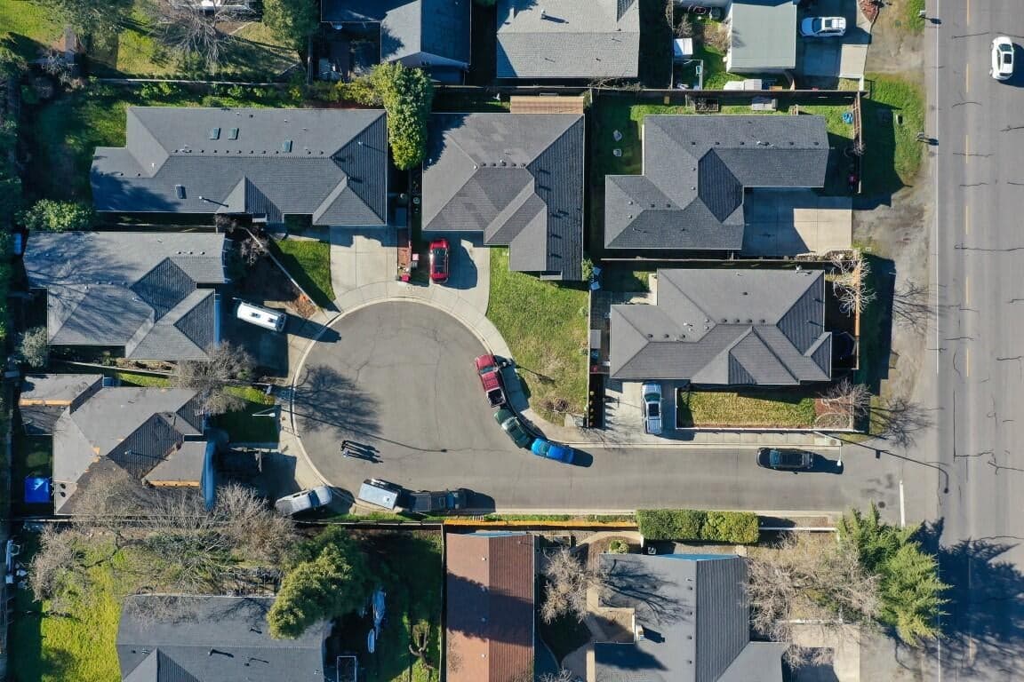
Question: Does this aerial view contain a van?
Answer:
Yes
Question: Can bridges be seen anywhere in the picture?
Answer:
No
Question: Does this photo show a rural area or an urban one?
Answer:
urban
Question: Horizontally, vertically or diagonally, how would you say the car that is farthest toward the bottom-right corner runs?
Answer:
horizontally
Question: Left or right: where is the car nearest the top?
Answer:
right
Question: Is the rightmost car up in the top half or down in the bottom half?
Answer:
top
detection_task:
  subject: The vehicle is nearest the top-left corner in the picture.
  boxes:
[233,301,291,335]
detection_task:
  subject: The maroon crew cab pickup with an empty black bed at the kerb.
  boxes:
[479,355,507,408]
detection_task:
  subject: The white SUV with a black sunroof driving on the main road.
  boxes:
[986,38,1013,82]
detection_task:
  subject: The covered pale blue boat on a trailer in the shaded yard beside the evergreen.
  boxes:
[368,583,387,629]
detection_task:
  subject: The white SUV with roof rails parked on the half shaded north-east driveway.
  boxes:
[798,15,845,39]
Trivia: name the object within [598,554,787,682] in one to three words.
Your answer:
house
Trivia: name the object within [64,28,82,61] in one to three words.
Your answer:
shed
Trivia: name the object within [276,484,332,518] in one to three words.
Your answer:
truck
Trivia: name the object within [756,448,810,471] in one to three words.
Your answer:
car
